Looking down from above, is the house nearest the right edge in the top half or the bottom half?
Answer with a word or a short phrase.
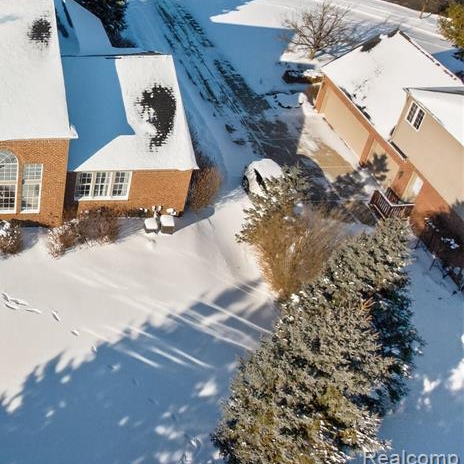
top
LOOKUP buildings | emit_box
[316,21,464,257]
[0,0,199,227]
